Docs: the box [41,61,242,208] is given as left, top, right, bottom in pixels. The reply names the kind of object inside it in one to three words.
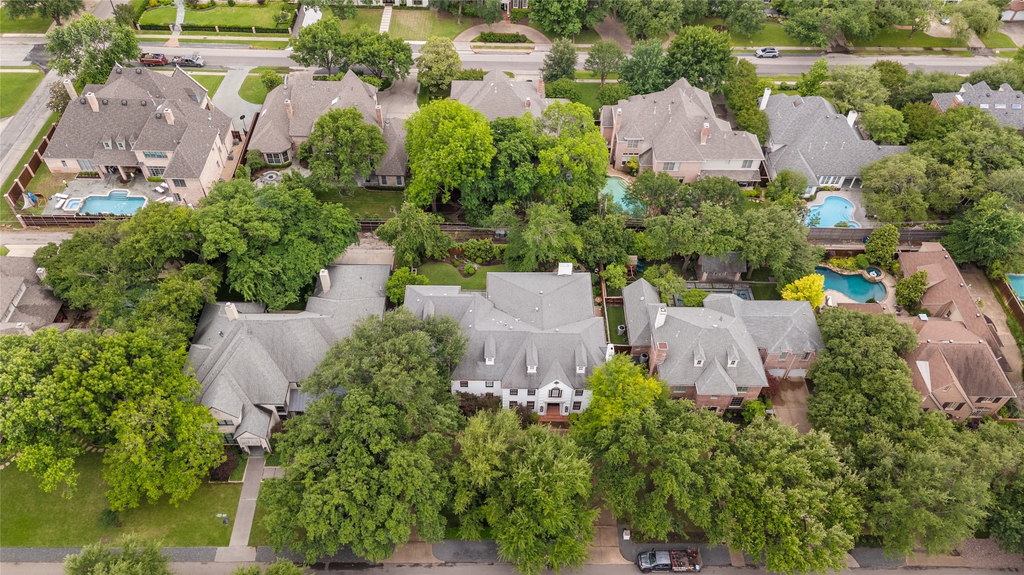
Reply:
house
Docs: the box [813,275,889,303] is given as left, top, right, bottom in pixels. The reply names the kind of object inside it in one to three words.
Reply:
swimming pool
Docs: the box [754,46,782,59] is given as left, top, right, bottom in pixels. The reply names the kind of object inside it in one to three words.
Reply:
vehicle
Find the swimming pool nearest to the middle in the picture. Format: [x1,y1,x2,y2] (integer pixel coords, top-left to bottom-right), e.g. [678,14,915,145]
[599,174,648,216]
